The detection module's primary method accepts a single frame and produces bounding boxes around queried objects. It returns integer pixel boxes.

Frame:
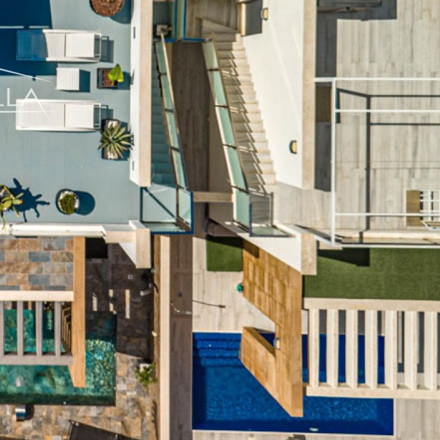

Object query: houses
[176,0,440,417]
[0,0,193,387]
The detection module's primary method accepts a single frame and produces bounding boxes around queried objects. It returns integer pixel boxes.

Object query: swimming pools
[0,309,116,397]
[194,334,393,435]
